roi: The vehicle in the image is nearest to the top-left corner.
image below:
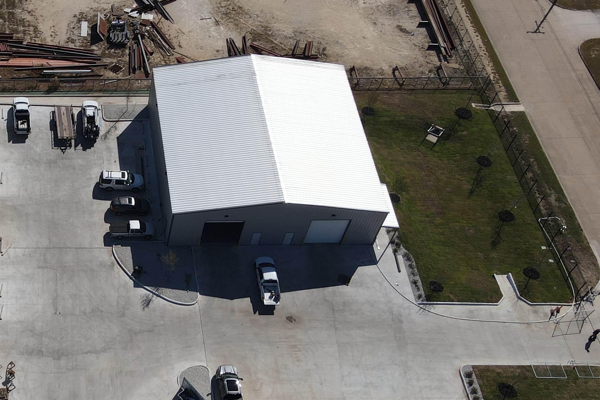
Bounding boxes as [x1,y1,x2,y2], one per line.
[12,97,34,139]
